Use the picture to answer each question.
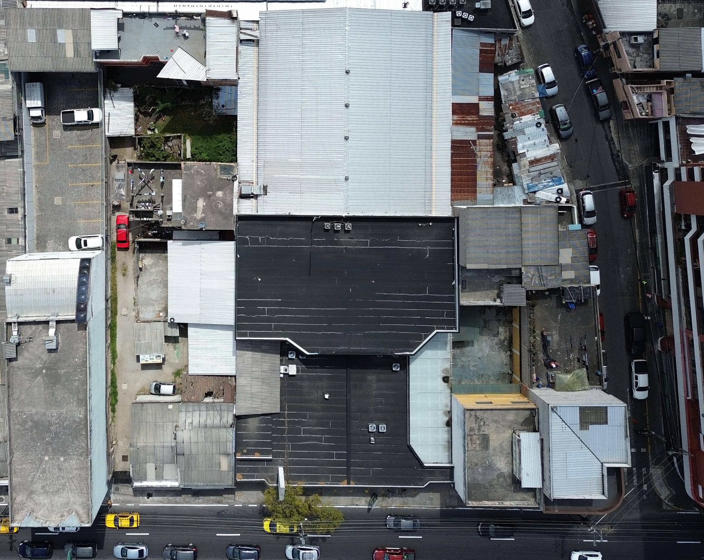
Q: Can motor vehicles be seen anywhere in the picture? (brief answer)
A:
Yes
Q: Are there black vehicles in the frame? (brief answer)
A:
Yes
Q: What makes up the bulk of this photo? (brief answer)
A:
buildings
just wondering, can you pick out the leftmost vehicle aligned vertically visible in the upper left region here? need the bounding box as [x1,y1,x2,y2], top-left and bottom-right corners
[27,83,44,124]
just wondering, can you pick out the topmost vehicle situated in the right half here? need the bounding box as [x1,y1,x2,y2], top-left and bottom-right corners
[511,0,533,27]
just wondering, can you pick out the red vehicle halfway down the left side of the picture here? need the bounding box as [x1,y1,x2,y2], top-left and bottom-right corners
[114,214,130,249]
